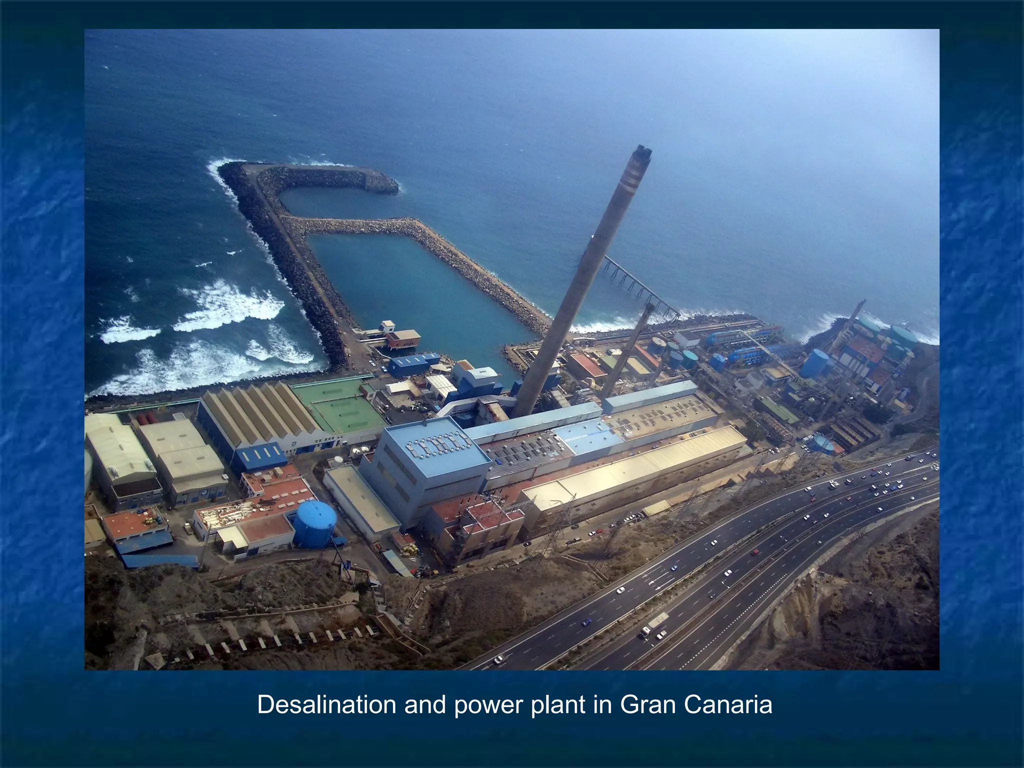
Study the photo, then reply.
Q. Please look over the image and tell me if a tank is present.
Yes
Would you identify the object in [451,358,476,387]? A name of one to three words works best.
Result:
house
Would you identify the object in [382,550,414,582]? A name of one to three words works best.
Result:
shed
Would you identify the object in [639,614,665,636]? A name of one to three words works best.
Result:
truck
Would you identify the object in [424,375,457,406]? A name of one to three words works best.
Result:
building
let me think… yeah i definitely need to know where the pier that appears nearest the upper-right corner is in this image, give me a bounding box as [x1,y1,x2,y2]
[605,256,680,319]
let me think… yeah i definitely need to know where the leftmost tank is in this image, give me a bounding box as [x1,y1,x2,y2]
[45,444,93,493]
